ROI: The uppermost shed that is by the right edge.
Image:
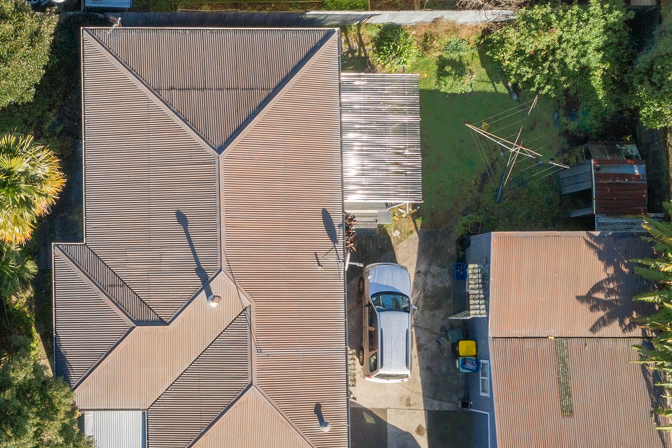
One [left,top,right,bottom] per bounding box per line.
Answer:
[541,144,665,231]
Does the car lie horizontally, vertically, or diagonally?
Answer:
vertically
